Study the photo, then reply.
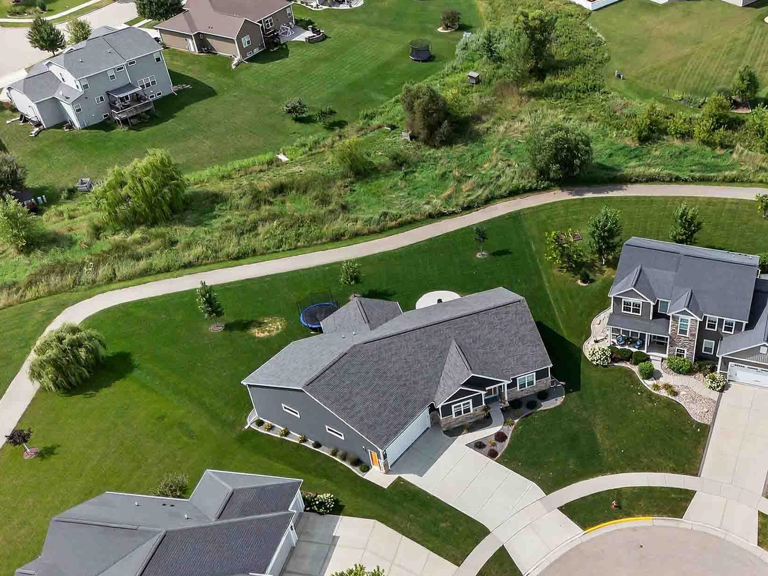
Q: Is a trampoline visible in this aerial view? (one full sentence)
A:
Yes, a trampoline is visible in the scene.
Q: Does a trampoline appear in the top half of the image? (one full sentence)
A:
Yes, a trampoline shows up in the top half of the image.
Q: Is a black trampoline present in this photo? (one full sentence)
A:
Yes, I can see a black trampoline in this picture.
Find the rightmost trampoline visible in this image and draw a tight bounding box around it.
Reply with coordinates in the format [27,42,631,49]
[407,41,433,64]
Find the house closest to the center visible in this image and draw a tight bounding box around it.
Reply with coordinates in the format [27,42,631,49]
[236,287,559,470]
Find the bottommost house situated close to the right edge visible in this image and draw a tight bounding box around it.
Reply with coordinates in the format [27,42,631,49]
[605,236,768,386]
